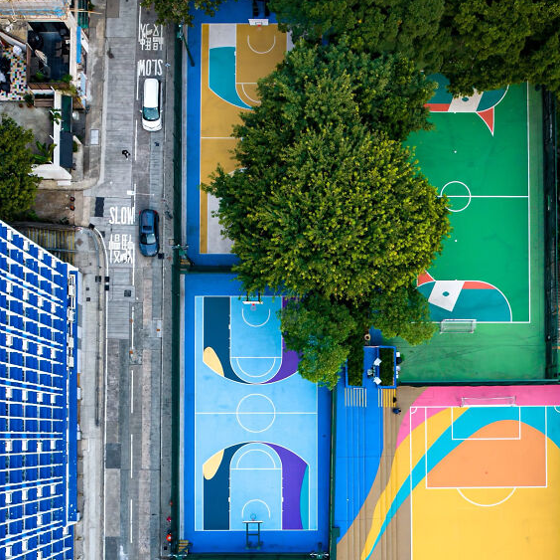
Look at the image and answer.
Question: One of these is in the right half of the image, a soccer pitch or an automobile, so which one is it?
soccer pitch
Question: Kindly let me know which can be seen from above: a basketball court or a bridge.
basketball court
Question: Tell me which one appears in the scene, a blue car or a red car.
blue car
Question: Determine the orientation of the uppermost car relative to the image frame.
from top to bottom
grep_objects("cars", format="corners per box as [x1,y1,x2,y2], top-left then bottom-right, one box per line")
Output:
[138,75,161,130]
[136,209,159,259]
